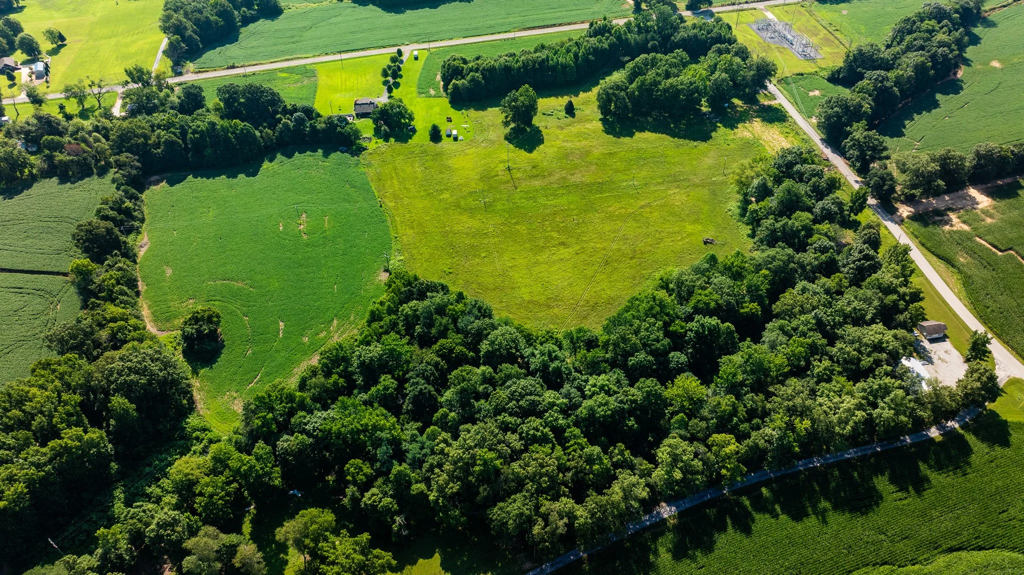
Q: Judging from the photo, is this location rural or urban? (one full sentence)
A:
This place is rural.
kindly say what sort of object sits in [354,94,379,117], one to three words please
house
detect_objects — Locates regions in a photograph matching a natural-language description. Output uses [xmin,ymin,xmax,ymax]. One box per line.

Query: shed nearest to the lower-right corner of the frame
[902,352,936,395]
